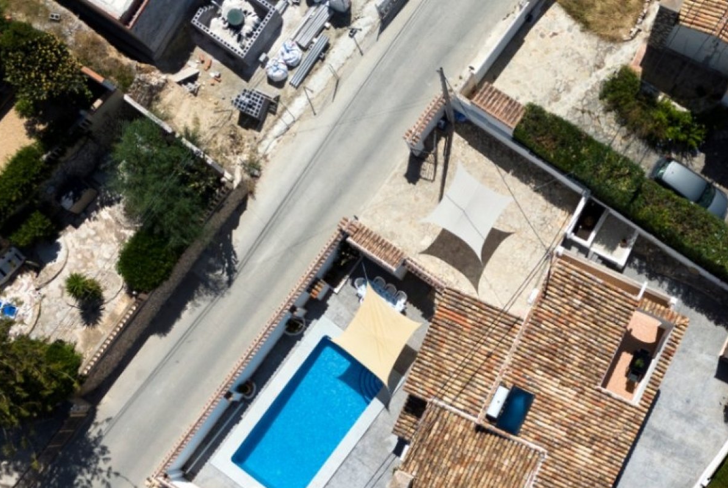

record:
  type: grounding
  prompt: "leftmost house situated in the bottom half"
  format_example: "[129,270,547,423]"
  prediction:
[389,246,689,488]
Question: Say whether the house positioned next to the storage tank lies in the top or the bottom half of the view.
top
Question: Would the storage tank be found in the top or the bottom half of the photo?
top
